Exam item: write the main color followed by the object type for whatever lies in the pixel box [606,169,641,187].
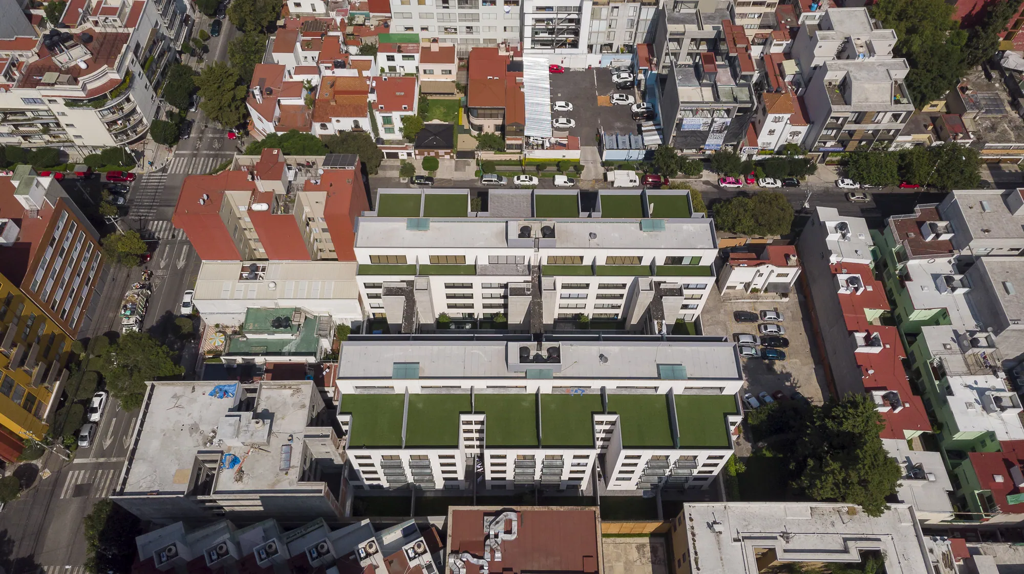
white vehicle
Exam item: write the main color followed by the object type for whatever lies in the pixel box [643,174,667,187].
red vehicle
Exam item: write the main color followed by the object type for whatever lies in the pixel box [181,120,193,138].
black vehicle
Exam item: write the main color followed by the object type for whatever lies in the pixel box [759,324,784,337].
gray vehicle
